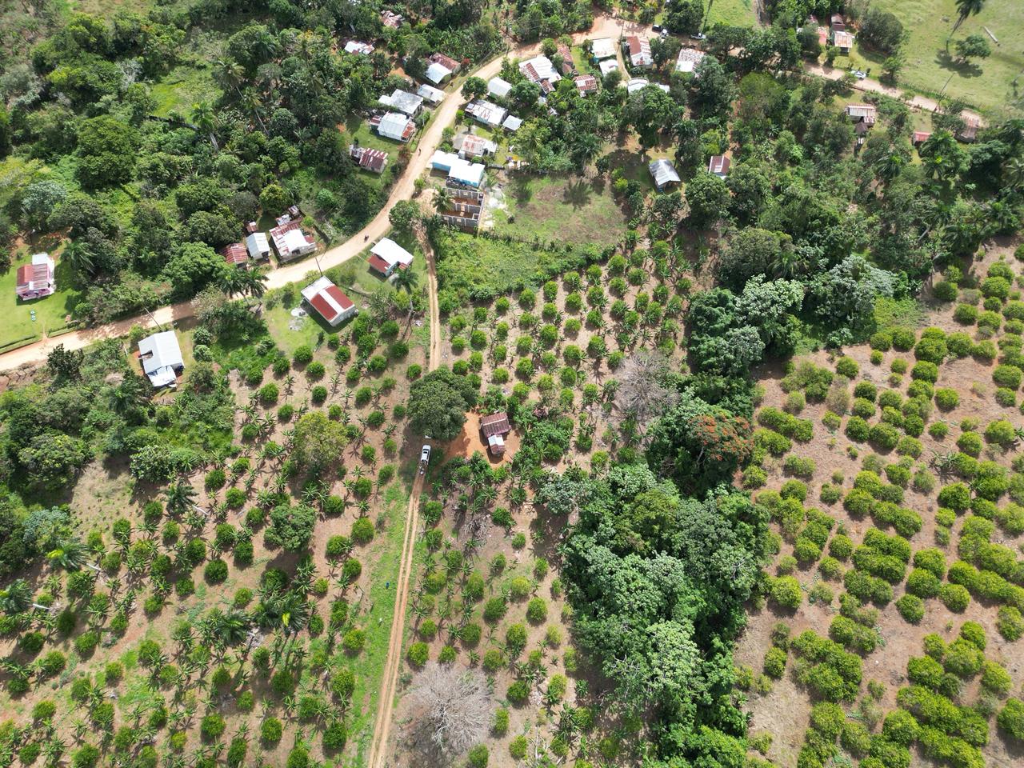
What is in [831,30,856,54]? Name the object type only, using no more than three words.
house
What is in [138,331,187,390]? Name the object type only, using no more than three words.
house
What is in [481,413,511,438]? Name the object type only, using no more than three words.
shed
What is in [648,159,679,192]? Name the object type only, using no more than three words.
shed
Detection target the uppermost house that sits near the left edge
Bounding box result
[16,252,60,299]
